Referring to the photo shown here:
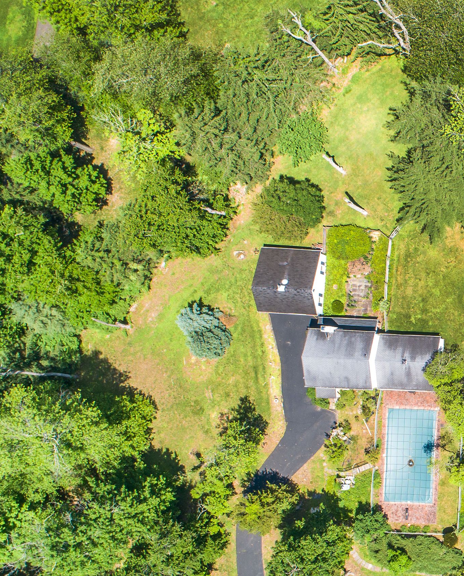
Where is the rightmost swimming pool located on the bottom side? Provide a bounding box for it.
[382,404,440,509]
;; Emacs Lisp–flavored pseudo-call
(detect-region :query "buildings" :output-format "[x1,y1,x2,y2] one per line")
[252,247,327,316]
[302,326,441,403]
